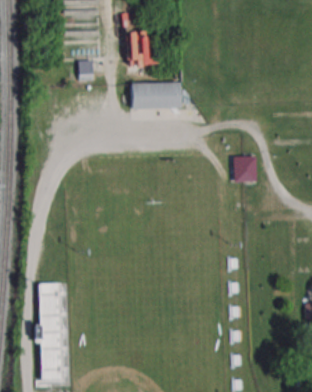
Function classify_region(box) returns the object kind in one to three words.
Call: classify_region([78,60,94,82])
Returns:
shed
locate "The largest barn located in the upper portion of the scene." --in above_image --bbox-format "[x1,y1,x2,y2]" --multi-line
[130,83,182,108]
